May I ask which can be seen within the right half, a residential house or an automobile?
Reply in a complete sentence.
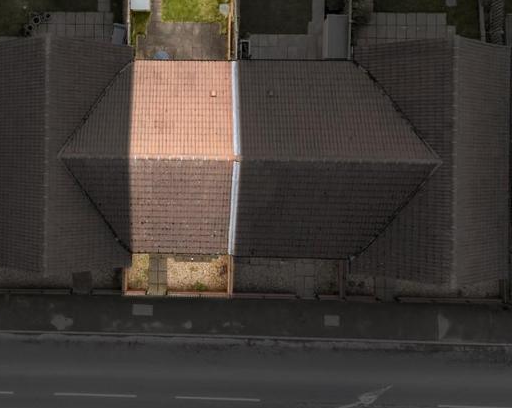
There is a residential house within the right half.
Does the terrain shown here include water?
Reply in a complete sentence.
No, no water is visible.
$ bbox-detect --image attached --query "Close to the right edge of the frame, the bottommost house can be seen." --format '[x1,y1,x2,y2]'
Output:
[348,36,512,289]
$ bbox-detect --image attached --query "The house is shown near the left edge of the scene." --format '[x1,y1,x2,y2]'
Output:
[0,35,135,278]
